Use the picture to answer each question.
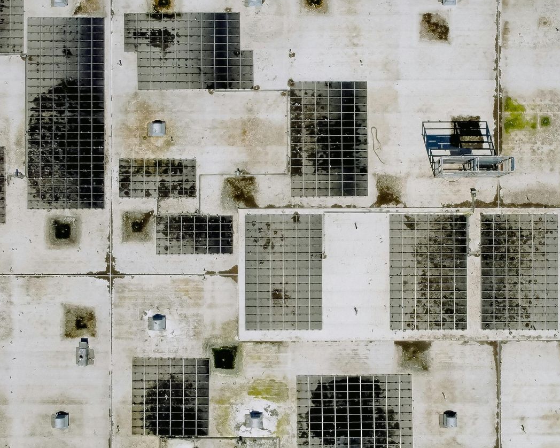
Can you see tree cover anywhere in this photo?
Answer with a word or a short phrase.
No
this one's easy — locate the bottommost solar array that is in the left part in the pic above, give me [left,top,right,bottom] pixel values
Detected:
[131,357,210,435]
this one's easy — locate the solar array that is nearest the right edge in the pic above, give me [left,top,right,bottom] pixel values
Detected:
[481,212,560,330]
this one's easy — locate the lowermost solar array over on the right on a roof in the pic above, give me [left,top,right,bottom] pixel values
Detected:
[296,374,414,448]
